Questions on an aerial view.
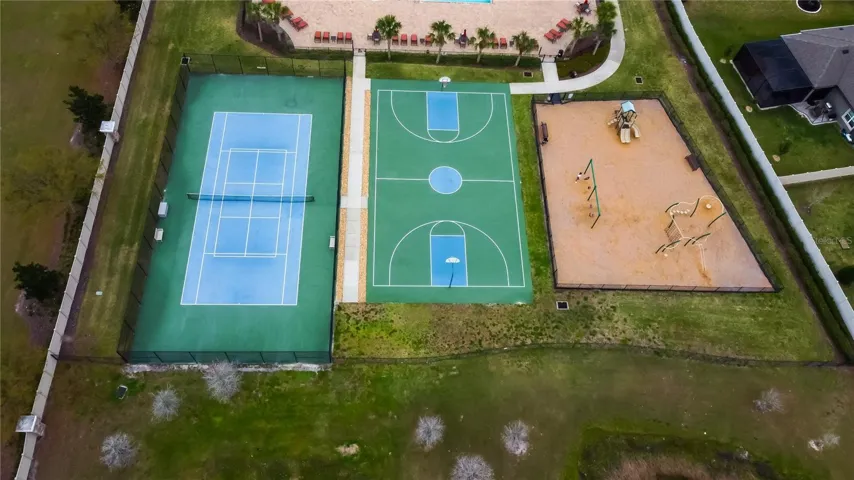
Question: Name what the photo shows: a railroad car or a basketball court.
basketball court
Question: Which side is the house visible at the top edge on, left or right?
right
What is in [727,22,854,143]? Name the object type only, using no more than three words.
house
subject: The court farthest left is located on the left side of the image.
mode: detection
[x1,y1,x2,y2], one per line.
[128,76,343,363]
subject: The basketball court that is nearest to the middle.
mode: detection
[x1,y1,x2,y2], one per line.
[365,79,532,305]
